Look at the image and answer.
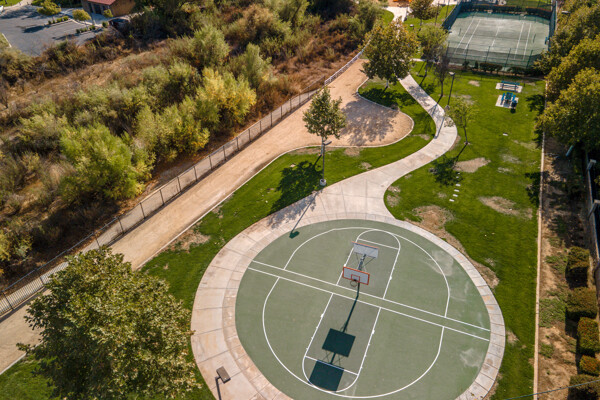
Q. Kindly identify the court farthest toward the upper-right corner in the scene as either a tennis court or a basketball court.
tennis court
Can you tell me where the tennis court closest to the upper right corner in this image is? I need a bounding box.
[428,9,551,74]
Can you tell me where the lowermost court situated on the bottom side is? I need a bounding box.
[191,205,503,400]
